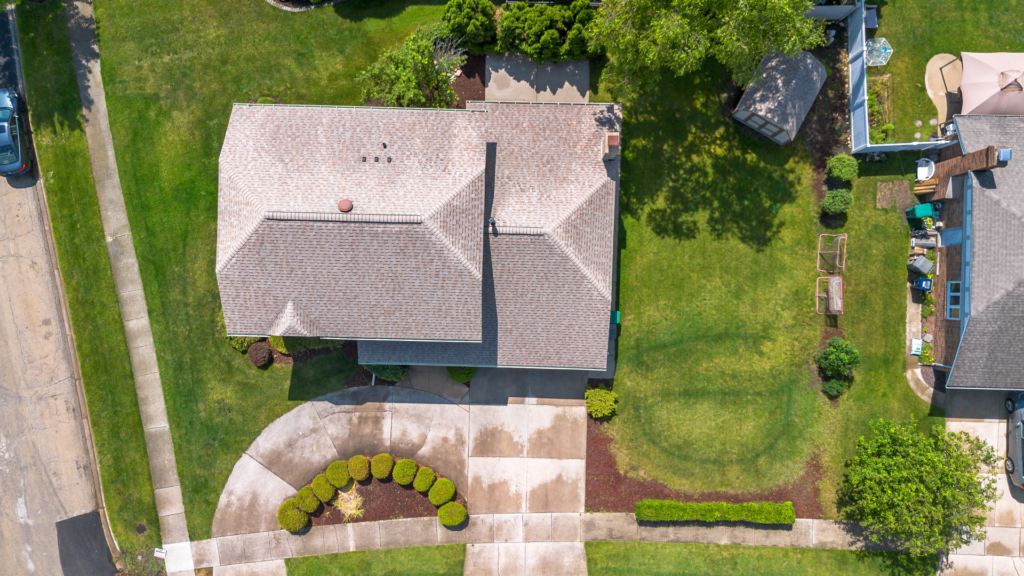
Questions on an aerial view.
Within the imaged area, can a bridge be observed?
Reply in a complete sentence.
No, there isn't any bridge down there.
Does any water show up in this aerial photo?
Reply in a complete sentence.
No, there is no water in the image.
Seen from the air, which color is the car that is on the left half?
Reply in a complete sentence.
From above, the car that is on the left half appears blue.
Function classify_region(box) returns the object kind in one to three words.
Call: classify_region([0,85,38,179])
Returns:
car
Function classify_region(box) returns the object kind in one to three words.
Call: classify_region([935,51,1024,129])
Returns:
gazebo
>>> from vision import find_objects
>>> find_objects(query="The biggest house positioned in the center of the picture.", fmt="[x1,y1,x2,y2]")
[215,98,620,387]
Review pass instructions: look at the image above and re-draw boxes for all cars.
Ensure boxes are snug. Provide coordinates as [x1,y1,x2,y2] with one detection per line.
[1003,393,1024,490]
[0,85,38,179]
